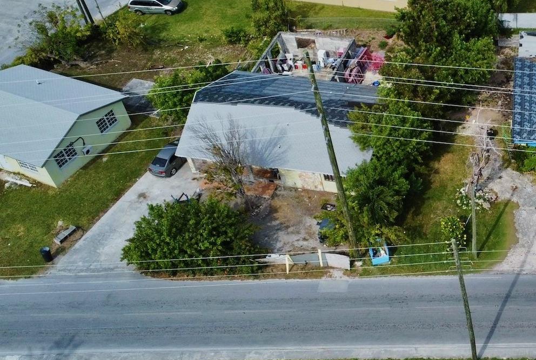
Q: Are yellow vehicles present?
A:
No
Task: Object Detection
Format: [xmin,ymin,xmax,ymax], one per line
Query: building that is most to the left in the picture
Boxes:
[0,68,132,187]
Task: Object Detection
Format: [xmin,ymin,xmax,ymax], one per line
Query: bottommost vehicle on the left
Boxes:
[142,134,184,178]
